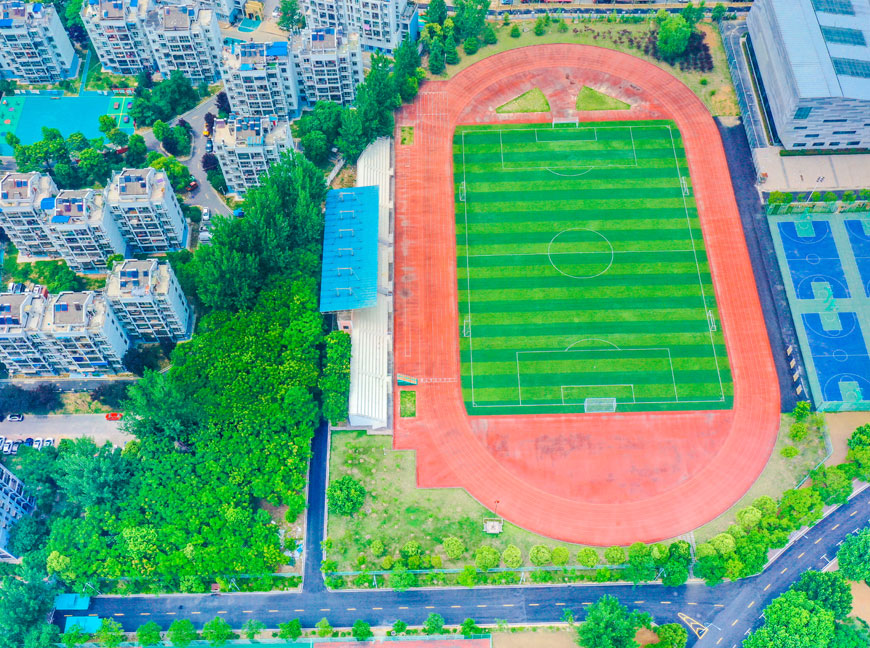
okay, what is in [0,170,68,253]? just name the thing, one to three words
building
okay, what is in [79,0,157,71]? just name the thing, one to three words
building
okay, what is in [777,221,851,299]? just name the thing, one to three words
basketball court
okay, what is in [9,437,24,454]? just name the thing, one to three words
car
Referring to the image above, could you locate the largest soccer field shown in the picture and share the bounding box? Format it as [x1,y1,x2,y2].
[455,119,737,416]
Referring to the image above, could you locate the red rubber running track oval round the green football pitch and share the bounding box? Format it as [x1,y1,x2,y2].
[393,46,779,544]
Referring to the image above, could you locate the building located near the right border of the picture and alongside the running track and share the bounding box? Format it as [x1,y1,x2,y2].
[749,0,870,141]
